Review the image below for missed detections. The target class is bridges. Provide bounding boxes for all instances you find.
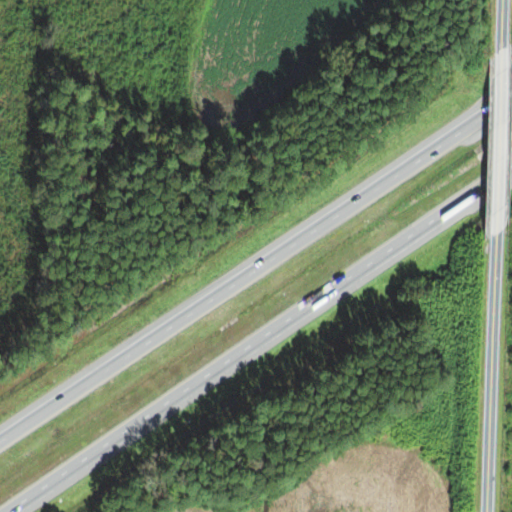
[484,44,512,242]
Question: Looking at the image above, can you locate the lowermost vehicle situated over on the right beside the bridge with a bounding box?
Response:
[441,194,480,222]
